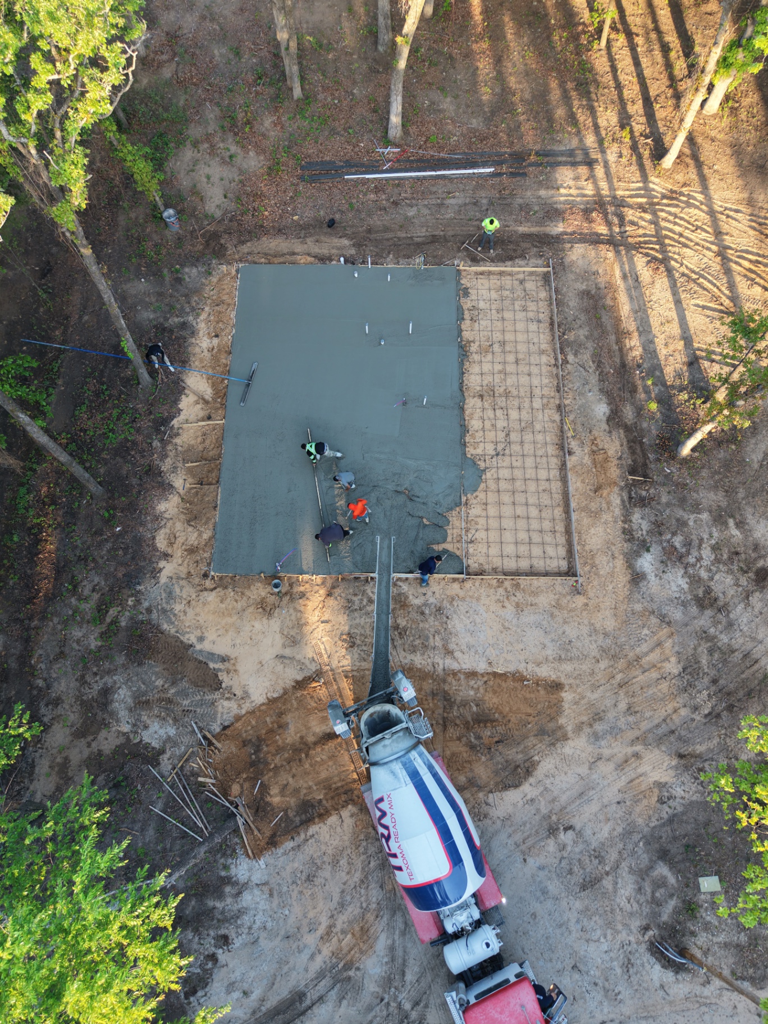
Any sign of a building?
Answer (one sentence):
No, no building is visible in the scene.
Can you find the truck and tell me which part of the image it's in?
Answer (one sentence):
The truck sits in the bottom section of the image.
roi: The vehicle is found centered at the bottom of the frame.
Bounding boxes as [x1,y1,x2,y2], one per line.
[327,537,576,1024]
